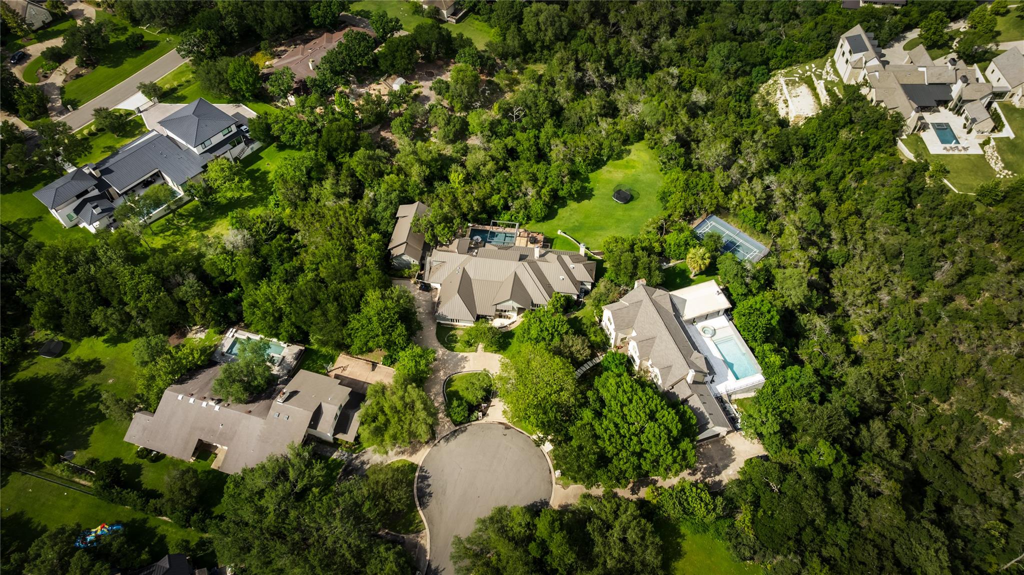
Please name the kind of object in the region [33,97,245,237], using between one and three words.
house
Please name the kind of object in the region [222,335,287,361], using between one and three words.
swimming pool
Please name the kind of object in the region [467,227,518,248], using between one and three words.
swimming pool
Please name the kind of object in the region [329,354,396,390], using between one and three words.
basketball court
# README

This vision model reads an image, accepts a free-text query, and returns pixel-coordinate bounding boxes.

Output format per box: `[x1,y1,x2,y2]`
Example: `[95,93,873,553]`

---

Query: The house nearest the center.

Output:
[428,238,596,328]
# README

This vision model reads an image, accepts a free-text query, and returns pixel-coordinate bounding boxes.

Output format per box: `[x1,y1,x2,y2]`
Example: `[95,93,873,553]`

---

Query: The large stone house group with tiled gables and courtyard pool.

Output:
[833,24,1024,136]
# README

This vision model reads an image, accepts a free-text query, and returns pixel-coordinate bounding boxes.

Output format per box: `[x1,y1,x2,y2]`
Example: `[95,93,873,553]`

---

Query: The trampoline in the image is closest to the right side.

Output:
[612,184,632,202]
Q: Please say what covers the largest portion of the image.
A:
trees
